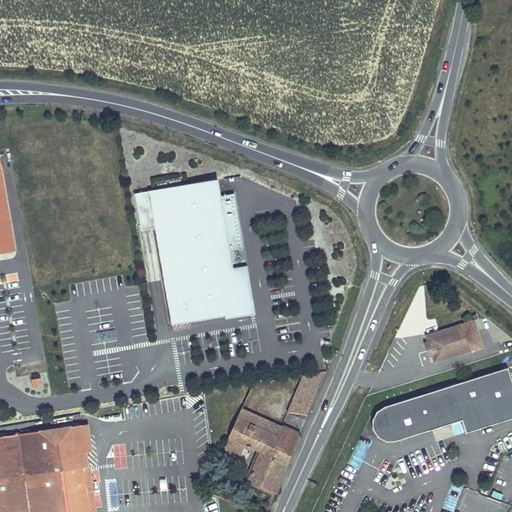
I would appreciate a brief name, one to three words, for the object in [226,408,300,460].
house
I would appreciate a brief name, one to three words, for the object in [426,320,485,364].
house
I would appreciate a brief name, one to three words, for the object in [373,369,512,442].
building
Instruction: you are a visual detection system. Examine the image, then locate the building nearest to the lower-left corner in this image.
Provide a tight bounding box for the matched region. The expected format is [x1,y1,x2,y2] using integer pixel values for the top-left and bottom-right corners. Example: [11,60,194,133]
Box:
[0,425,97,512]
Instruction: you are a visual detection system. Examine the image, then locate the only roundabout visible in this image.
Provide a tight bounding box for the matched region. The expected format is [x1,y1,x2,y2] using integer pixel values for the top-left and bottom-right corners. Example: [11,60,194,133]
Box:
[334,114,480,311]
